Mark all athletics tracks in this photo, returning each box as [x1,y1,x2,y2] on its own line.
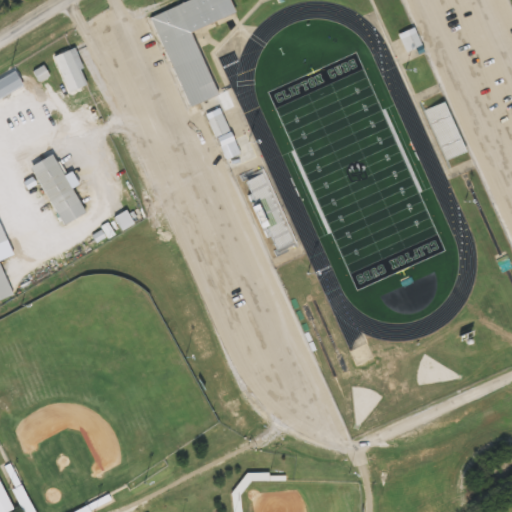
[219,0,478,348]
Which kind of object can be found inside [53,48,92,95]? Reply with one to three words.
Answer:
barn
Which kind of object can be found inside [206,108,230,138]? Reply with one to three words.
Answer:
building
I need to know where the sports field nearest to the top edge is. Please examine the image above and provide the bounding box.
[254,18,460,324]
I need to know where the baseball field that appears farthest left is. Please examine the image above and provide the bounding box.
[0,272,220,512]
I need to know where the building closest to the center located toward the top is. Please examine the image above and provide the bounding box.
[218,132,240,164]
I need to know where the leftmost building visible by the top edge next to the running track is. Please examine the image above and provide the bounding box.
[150,0,236,106]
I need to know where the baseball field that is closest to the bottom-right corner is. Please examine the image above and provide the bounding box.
[244,482,362,512]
